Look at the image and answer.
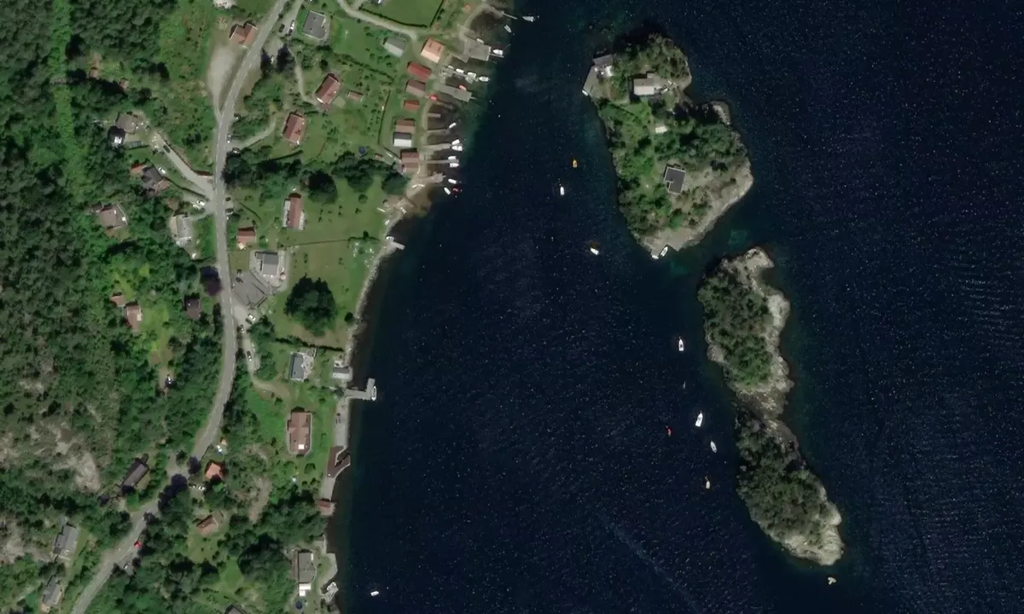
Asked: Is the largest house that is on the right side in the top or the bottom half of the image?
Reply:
top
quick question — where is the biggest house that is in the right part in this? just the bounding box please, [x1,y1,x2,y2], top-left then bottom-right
[630,72,674,102]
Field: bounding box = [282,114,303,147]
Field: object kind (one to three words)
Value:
house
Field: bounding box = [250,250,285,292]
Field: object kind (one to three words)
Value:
house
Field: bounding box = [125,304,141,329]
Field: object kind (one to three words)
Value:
building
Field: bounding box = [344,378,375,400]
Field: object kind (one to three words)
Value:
pier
